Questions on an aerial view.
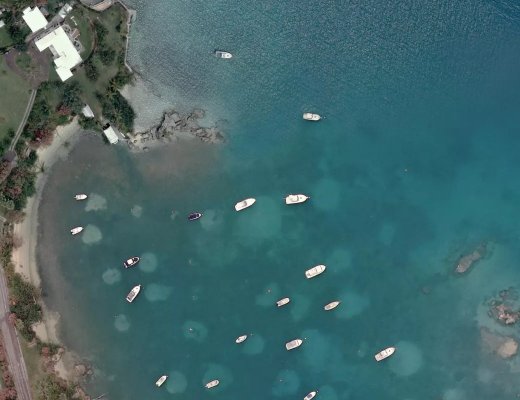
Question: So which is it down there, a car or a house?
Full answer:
Visible in the photo is a house.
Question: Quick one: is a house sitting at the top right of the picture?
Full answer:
No, no house can be made out at the top right of the picture.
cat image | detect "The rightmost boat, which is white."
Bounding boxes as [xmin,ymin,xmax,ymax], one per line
[374,348,395,362]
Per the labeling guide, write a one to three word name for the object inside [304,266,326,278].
boat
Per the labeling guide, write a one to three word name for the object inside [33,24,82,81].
house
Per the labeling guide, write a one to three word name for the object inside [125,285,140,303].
boat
